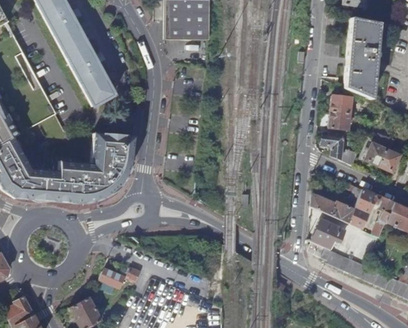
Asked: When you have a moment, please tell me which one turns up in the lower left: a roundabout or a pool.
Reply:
roundabout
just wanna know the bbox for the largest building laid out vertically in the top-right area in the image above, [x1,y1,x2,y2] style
[344,18,384,104]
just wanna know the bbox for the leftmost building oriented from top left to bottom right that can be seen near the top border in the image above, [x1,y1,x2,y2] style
[30,0,118,108]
